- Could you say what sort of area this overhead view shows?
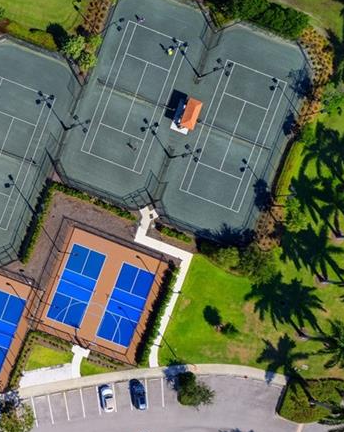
sports ground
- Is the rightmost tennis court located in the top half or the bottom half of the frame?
top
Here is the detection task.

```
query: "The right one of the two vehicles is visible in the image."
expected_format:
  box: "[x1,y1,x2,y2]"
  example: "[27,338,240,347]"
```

[132,381,149,411]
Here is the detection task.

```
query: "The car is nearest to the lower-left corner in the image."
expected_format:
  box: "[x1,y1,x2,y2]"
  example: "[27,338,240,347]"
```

[102,387,117,414]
